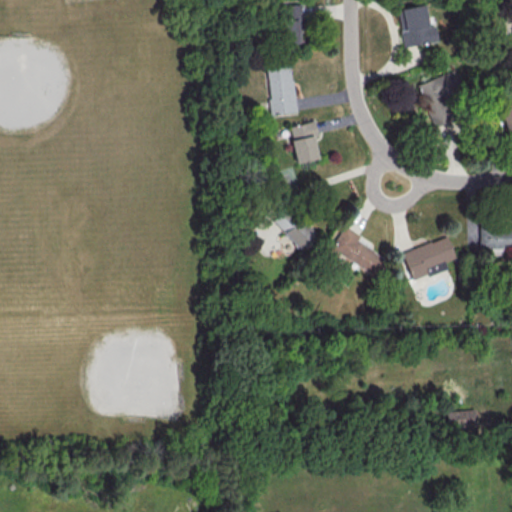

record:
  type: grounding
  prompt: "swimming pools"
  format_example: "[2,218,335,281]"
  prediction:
[403,262,454,307]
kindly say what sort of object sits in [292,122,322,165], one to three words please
house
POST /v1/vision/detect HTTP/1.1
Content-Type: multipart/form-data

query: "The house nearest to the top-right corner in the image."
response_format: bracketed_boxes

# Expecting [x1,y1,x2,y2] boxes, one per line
[400,6,440,48]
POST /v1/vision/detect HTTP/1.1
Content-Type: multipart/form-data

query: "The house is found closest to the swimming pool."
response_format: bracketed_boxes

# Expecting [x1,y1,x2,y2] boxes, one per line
[405,238,456,278]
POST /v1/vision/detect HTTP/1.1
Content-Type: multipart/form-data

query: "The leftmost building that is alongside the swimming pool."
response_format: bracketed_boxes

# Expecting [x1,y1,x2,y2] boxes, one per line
[337,228,383,276]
